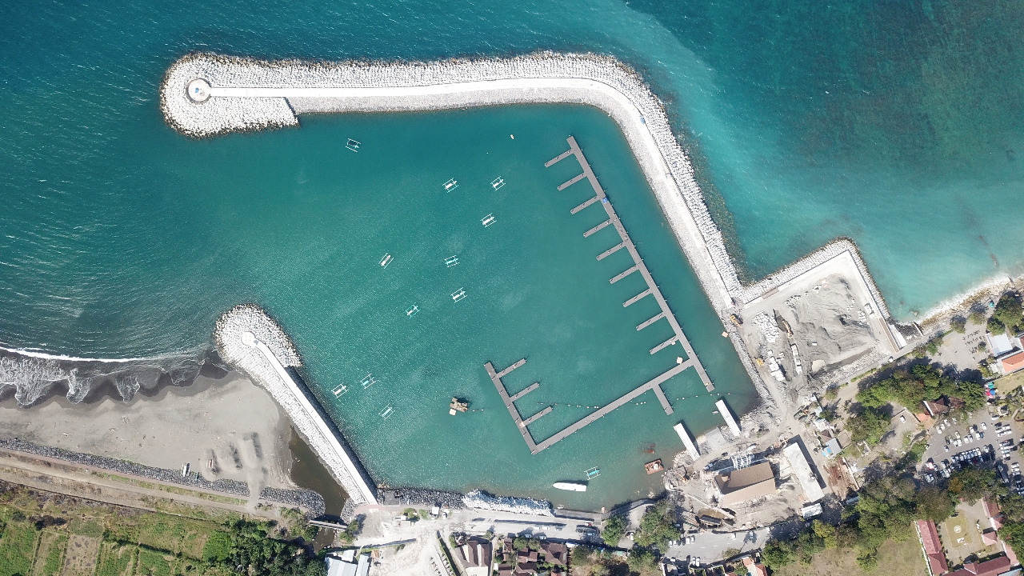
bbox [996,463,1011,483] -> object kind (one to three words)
vehicle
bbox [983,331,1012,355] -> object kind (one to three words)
building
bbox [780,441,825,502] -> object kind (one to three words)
building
